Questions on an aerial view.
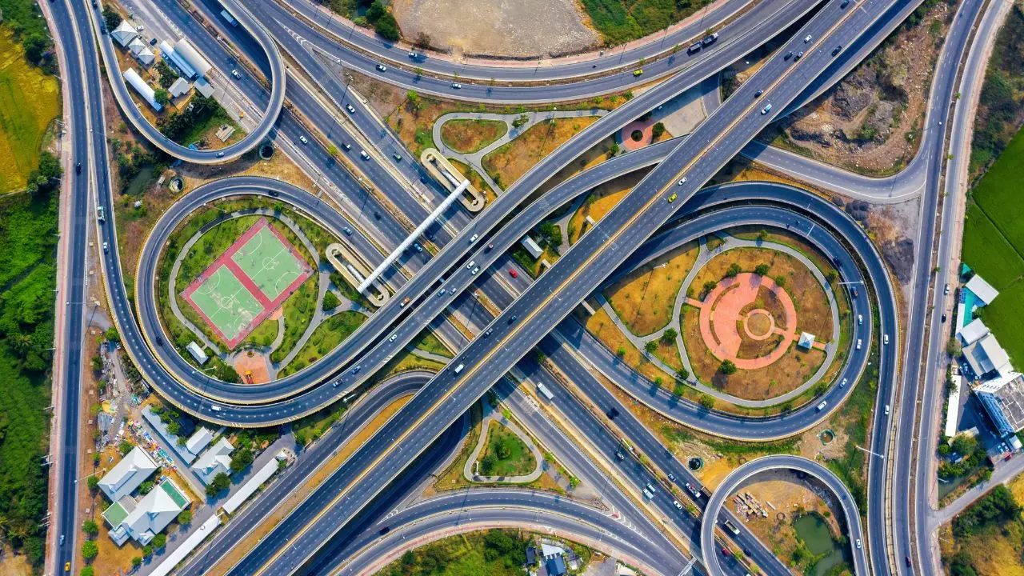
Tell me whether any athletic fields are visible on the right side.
No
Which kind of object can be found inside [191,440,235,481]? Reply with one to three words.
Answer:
house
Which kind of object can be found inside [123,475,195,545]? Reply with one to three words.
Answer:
building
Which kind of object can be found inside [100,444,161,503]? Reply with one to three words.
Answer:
building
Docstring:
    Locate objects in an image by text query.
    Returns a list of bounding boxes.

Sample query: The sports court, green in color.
[179,217,315,350]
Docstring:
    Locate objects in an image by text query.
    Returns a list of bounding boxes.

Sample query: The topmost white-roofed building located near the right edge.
[960,272,1000,303]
